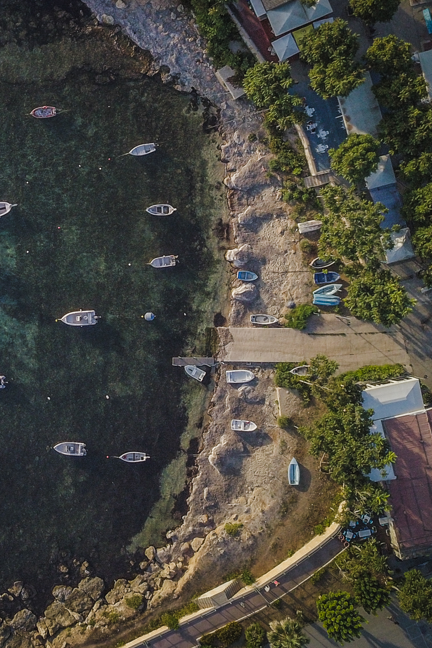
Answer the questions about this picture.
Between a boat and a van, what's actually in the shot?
boat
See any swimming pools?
No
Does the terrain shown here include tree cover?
Yes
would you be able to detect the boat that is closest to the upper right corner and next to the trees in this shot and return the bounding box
[296,220,321,234]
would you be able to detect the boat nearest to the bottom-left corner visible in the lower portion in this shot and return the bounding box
[54,441,90,456]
